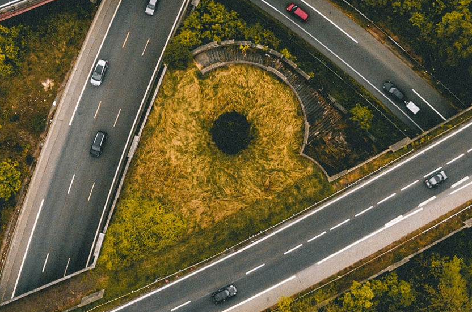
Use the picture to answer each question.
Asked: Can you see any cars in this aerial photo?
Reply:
Yes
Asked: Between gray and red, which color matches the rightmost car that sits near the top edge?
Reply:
red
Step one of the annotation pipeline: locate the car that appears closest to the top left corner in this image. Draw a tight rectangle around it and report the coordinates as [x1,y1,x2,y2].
[87,57,111,86]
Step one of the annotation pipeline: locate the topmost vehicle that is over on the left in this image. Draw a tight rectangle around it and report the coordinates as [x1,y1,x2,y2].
[142,0,159,15]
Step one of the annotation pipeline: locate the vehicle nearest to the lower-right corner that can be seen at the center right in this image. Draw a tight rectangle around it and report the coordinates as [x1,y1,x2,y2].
[423,169,449,189]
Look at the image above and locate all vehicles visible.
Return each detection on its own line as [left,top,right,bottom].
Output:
[423,169,449,189]
[88,129,108,157]
[87,57,111,86]
[210,285,237,306]
[286,2,311,23]
[382,79,408,102]
[142,0,159,15]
